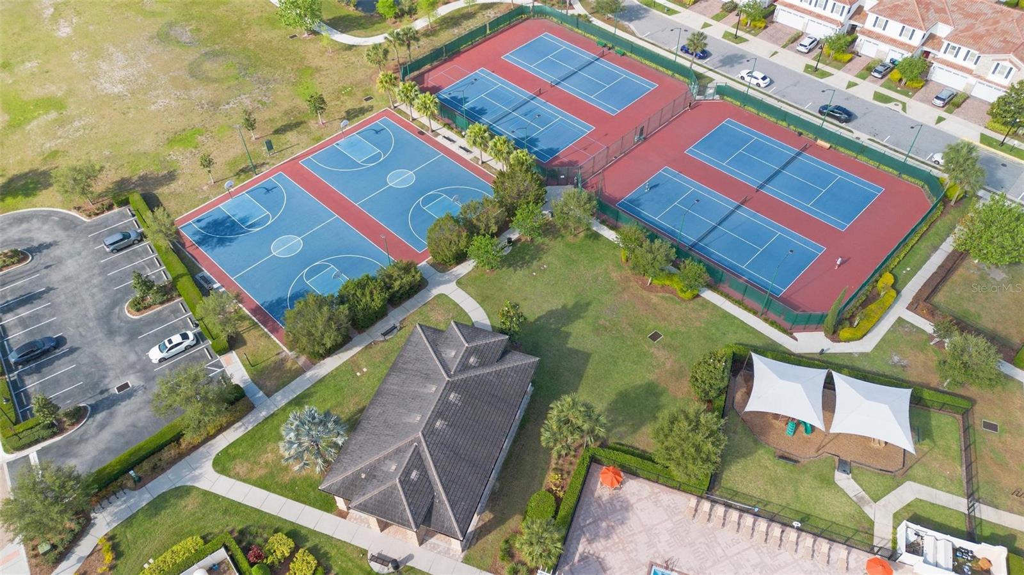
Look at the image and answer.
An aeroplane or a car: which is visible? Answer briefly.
car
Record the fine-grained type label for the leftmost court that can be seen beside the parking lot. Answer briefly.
basketball court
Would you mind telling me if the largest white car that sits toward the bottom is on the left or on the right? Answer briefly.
left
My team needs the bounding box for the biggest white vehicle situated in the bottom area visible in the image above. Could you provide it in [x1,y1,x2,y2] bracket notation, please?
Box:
[147,330,196,363]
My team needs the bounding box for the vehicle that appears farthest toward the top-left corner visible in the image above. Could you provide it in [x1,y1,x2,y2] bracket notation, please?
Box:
[100,226,142,251]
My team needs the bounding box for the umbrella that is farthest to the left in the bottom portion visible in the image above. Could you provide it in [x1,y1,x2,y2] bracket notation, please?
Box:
[599,470,625,495]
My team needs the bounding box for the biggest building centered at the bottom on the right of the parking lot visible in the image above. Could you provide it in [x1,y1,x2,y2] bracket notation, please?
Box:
[317,322,538,567]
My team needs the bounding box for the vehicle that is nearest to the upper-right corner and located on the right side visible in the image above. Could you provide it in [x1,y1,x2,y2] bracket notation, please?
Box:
[934,89,954,109]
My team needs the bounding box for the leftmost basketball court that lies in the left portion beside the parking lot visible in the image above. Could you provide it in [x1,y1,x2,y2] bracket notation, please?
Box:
[179,172,399,327]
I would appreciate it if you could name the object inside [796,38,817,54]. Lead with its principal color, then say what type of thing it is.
white car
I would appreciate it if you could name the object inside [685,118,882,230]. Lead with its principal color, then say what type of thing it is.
blue tennis court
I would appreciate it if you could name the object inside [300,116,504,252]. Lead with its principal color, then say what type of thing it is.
blue basketball court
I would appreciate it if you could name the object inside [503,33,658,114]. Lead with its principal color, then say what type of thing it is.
blue tennis court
